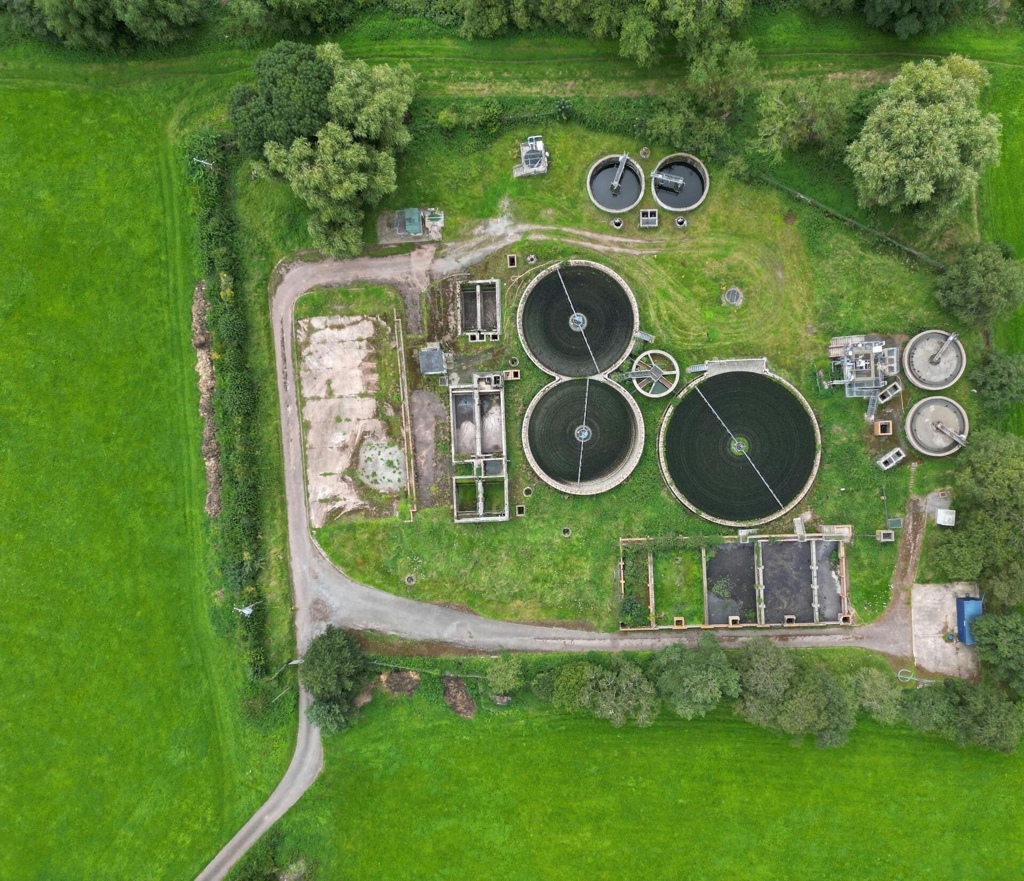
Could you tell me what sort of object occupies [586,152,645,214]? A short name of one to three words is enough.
storage tank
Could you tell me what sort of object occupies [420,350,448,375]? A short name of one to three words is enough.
building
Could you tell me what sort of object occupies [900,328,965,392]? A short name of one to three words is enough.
storage tank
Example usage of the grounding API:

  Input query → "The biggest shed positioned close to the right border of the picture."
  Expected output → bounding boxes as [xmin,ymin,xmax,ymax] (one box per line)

[951,593,986,644]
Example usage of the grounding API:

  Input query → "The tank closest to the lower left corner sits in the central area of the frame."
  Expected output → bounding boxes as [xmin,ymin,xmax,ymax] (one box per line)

[449,372,512,523]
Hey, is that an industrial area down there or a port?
industrial area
